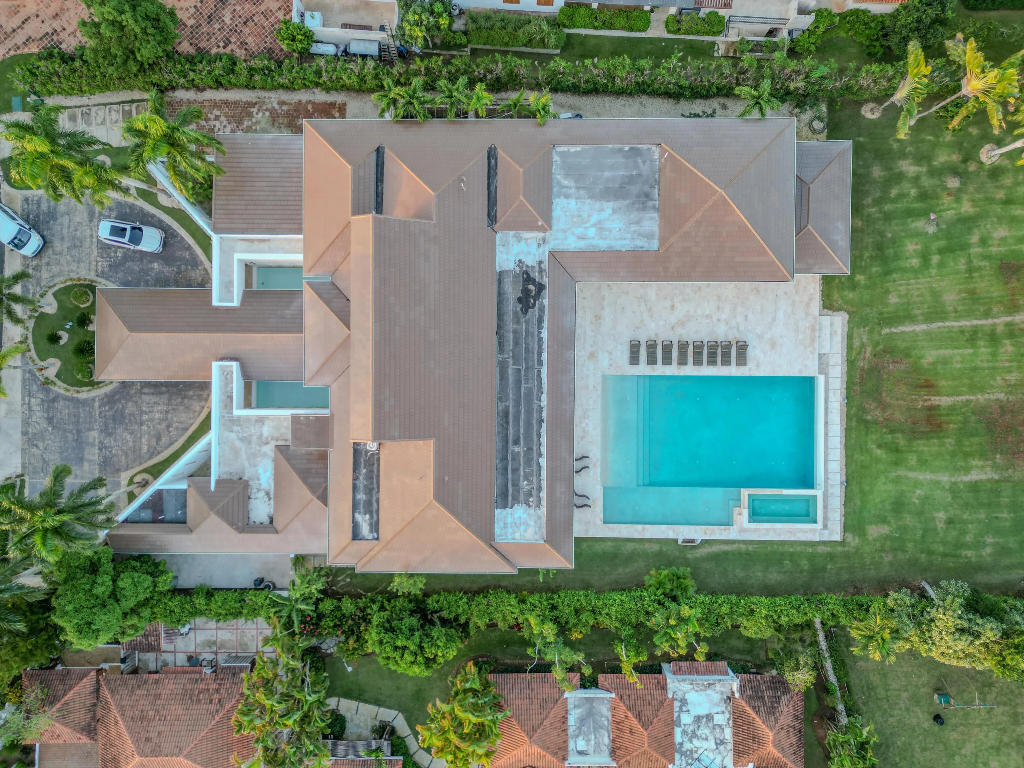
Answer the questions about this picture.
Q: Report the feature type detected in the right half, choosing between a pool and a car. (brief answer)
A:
pool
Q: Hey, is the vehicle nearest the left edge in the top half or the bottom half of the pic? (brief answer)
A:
top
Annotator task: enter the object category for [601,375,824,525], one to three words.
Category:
swimming pool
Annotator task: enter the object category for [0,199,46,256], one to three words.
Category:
vehicle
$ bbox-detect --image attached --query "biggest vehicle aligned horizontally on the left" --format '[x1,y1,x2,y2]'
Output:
[93,217,168,255]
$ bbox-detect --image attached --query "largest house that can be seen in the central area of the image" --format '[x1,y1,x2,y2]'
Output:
[302,116,797,574]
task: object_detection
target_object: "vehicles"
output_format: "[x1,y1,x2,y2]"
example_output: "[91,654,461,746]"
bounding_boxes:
[93,217,168,255]
[0,199,46,256]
